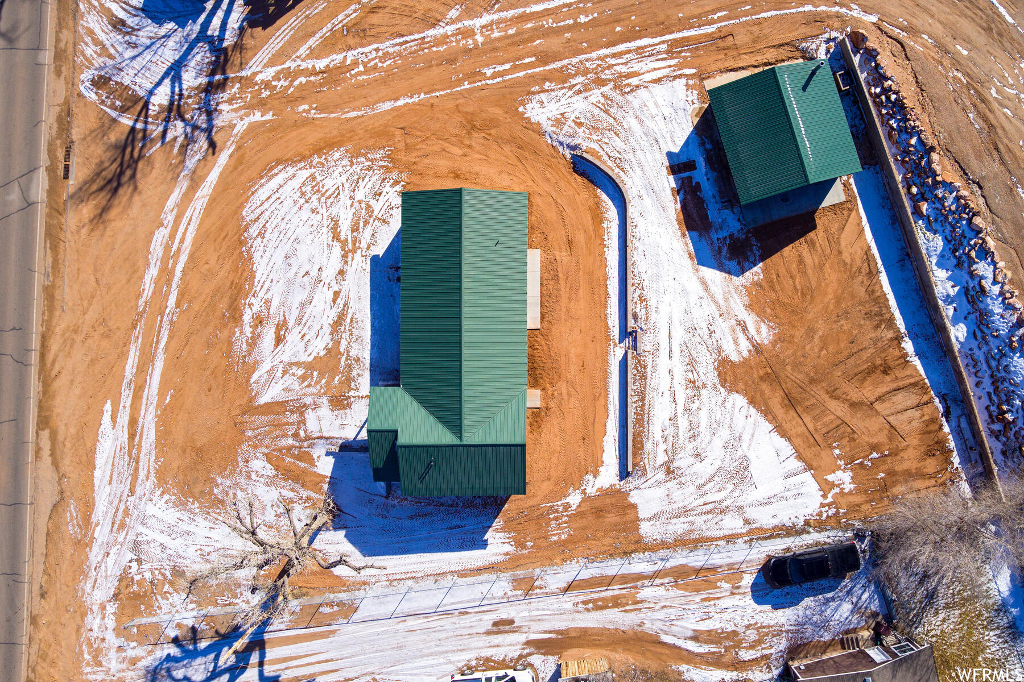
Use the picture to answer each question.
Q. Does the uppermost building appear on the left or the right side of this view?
right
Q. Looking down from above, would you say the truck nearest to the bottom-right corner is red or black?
black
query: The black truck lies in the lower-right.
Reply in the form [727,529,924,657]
[761,540,862,592]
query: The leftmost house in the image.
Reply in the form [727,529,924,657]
[364,185,530,496]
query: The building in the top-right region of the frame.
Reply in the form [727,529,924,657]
[705,55,861,208]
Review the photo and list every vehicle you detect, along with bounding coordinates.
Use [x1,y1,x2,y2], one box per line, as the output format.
[761,540,862,592]
[447,664,539,682]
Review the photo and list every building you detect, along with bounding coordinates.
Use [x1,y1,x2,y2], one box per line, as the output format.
[364,185,530,496]
[784,631,942,682]
[560,657,612,682]
[705,55,861,208]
